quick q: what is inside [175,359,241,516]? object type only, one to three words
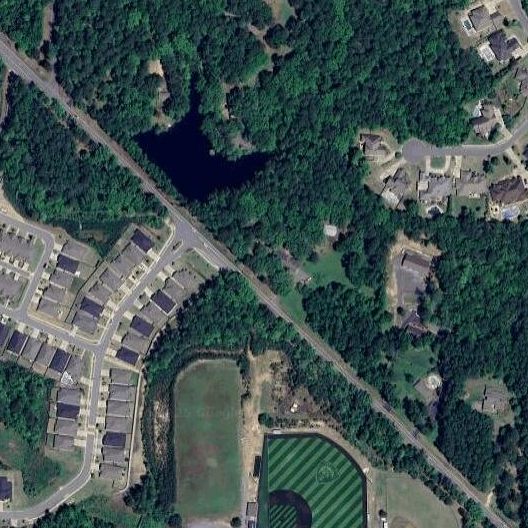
sports field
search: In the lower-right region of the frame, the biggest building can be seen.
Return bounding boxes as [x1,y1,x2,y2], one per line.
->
[479,387,508,415]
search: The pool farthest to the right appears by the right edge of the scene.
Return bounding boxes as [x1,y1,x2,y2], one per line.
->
[500,203,521,220]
